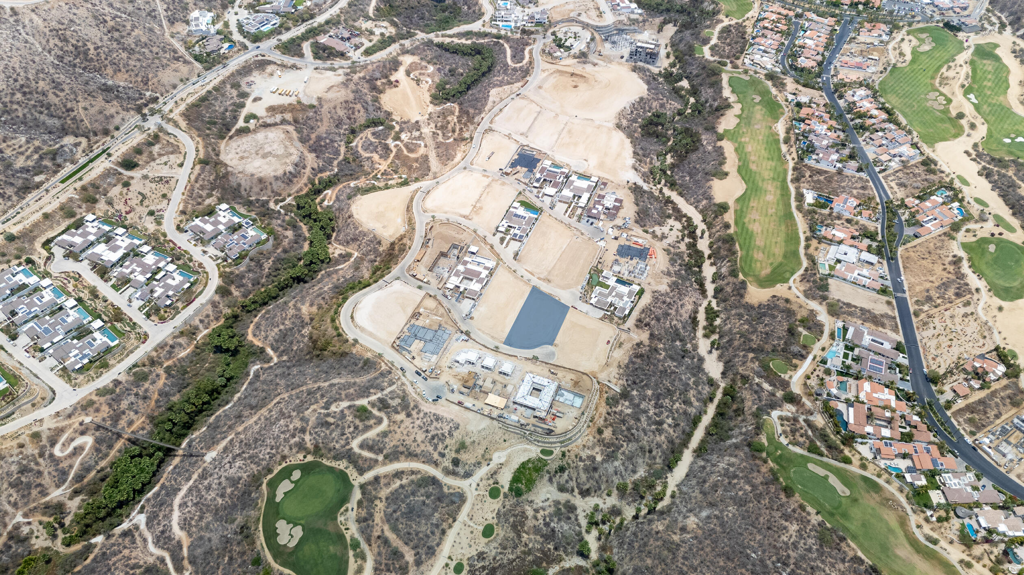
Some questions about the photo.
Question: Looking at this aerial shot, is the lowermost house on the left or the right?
right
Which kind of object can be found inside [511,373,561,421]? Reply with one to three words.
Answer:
building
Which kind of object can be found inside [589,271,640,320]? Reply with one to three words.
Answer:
house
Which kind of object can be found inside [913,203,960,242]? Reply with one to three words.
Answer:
house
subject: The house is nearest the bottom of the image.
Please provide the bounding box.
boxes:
[948,505,1024,541]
